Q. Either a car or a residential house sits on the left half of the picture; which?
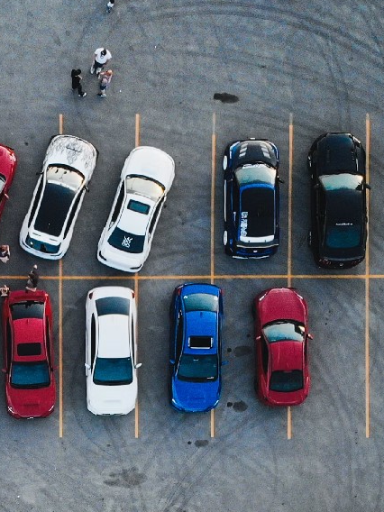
car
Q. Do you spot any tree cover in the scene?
No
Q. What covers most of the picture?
paved ground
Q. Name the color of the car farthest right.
black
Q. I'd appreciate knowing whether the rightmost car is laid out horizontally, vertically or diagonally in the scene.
vertically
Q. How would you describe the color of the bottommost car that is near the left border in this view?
red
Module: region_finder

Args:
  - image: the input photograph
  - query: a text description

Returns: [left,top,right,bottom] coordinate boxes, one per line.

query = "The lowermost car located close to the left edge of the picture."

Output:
[0,289,61,421]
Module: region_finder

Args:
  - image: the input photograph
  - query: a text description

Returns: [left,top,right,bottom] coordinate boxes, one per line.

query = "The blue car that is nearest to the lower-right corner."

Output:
[168,282,231,414]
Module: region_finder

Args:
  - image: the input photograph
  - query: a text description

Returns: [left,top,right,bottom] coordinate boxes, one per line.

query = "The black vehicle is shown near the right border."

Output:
[305,132,374,271]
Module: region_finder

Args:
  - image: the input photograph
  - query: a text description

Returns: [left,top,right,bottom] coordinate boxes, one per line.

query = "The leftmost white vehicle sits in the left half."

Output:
[21,135,97,262]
